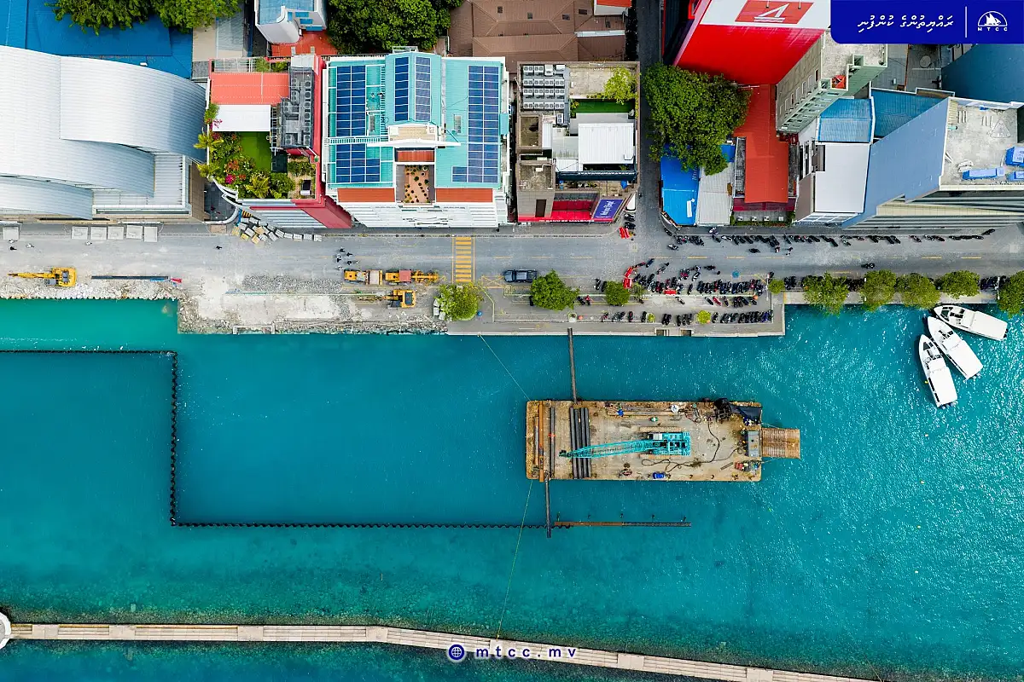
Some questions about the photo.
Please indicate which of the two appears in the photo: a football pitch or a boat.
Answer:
boat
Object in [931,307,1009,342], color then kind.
white boat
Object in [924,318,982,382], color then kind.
white boat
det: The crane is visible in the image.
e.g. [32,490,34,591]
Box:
[554,431,696,459]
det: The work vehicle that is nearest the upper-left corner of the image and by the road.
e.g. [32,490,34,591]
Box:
[12,267,73,286]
